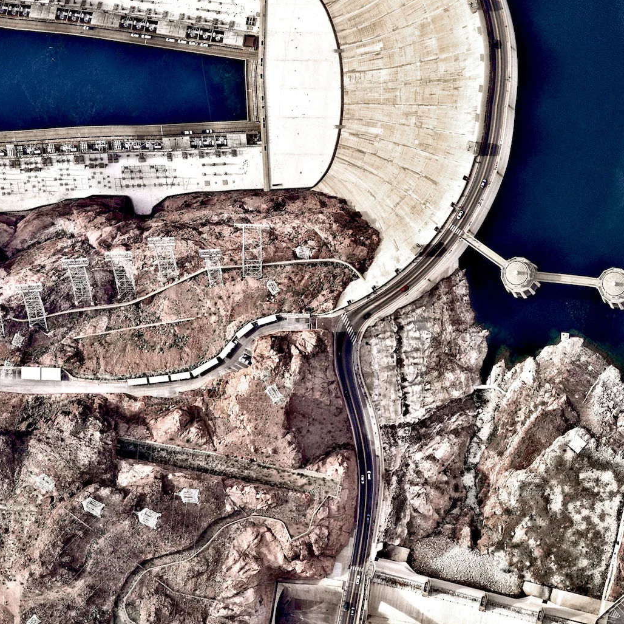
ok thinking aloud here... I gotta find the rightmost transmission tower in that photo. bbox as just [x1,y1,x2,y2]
[294,244,312,265]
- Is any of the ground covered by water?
Yes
